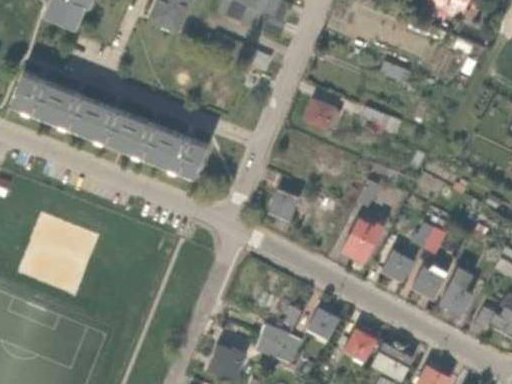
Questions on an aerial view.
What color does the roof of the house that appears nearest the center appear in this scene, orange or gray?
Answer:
gray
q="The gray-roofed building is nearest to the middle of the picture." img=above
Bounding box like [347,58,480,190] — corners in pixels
[268,189,298,223]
